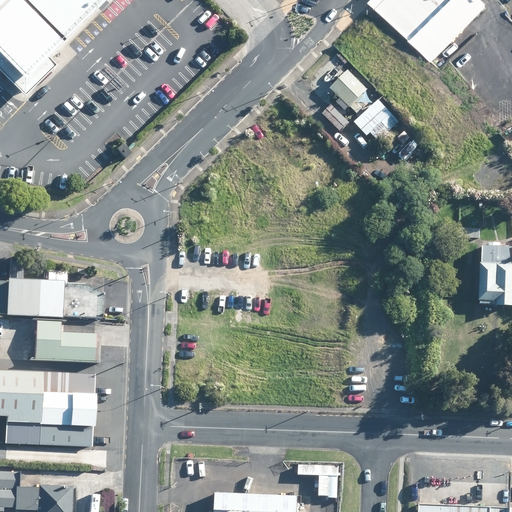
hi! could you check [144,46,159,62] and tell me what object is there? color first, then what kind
white car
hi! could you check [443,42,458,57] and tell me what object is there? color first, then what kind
white car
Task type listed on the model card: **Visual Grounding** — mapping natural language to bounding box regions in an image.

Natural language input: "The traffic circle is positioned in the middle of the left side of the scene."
[109,208,145,244]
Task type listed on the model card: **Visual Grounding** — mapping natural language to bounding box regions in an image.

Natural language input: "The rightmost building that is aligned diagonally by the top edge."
[407,0,490,62]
